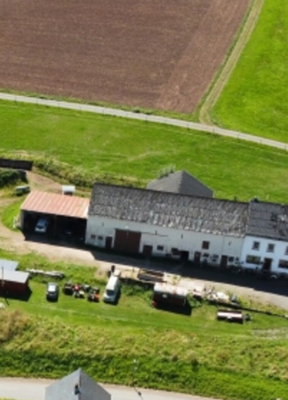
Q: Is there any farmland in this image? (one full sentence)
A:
Yes, there's farmland in this view.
